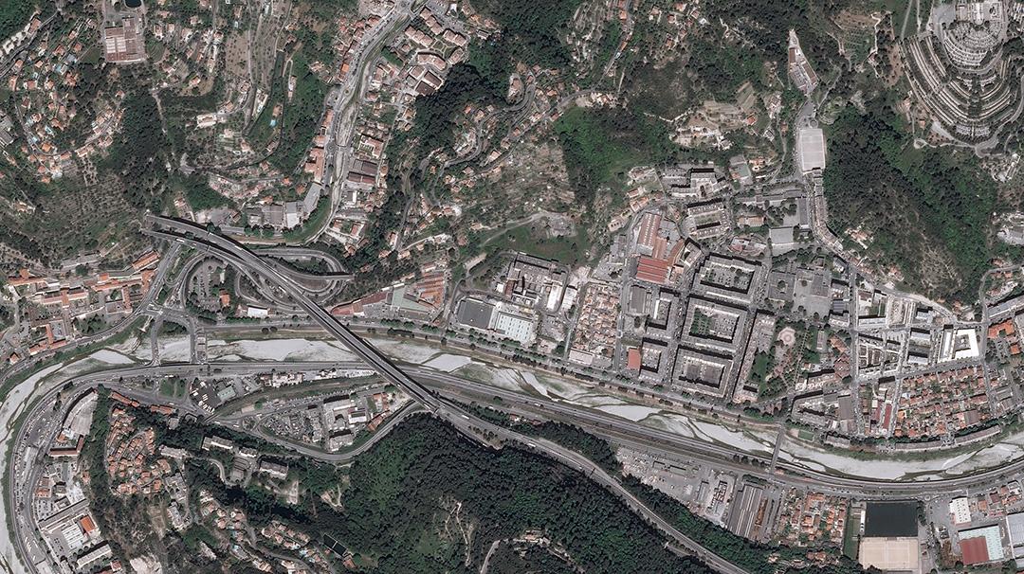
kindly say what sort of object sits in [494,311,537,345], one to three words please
building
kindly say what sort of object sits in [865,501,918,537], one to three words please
soccer field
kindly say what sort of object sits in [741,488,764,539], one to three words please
shed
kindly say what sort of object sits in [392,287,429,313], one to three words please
building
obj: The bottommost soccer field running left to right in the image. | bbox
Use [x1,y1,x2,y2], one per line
[859,539,918,568]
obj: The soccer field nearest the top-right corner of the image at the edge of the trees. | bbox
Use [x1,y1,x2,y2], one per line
[800,129,825,170]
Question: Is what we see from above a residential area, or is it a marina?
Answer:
residential area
